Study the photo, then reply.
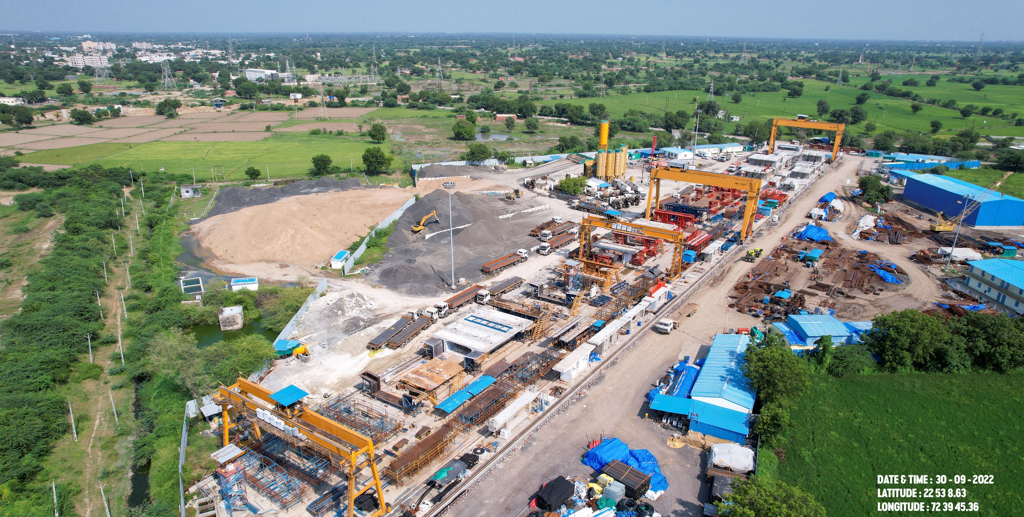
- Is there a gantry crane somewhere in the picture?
Yes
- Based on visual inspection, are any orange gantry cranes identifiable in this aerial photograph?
Yes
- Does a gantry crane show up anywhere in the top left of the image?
No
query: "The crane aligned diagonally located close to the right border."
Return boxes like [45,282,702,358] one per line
[929,171,1011,232]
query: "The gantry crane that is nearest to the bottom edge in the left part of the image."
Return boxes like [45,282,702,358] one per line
[207,381,397,517]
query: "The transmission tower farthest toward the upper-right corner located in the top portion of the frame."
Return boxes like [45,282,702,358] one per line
[975,35,987,69]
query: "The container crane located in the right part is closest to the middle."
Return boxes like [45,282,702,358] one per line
[574,211,687,277]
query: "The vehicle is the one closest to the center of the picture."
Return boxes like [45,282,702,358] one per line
[488,251,529,272]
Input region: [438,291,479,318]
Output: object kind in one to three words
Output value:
truck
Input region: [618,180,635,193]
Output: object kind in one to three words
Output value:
vehicle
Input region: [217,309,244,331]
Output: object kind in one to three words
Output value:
water tank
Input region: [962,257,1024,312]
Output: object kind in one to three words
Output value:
building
